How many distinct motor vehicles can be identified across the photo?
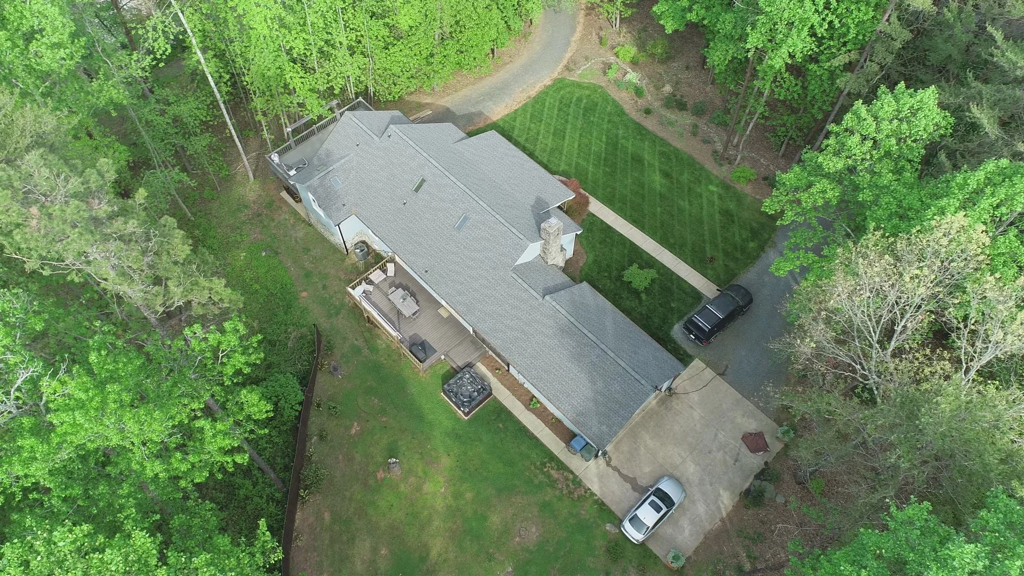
2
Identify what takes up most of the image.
trees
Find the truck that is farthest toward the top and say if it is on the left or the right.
right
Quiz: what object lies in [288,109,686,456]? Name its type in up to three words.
house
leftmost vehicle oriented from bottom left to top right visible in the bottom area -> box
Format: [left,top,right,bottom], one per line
[622,471,688,544]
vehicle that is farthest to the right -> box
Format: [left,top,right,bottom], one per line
[680,280,751,350]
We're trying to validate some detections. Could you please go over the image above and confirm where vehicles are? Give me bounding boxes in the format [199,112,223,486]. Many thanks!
[680,280,751,350]
[622,471,688,544]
